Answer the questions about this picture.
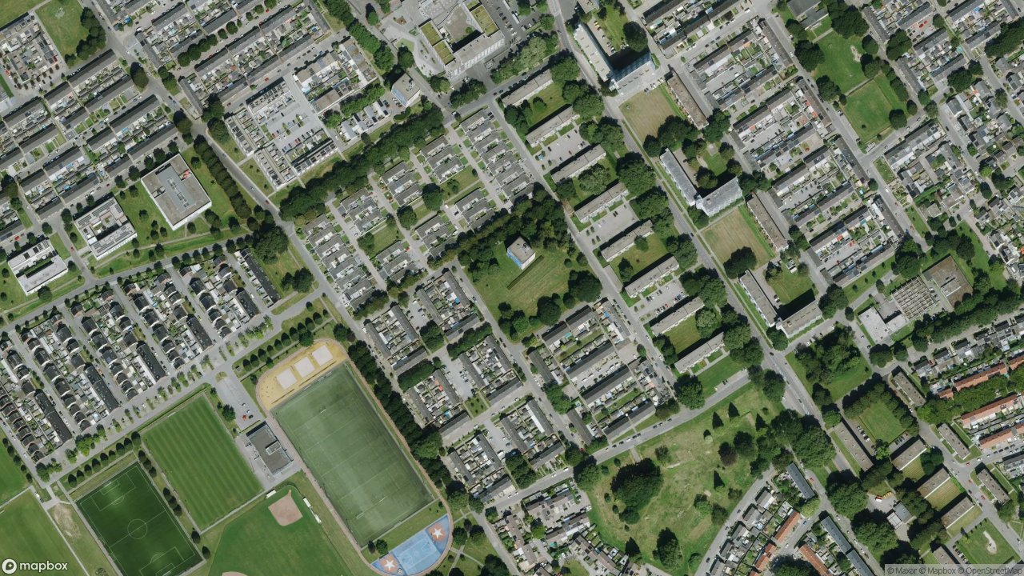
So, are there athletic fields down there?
Yes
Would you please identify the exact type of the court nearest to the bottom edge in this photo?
basketball court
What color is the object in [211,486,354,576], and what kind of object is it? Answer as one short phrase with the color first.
green baseball field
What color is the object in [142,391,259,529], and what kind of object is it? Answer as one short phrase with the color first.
green sports field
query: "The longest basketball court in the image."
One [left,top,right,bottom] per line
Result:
[371,514,450,575]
